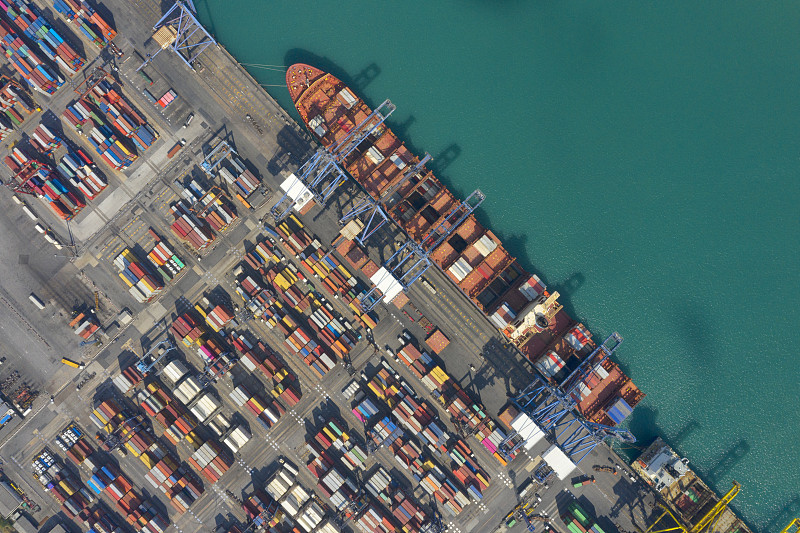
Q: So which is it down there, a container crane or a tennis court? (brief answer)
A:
container crane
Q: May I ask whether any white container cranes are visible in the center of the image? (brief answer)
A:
Yes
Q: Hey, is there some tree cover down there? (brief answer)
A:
No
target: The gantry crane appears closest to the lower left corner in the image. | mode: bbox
[95,417,144,460]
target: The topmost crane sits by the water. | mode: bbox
[140,0,223,73]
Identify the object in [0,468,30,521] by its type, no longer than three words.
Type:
building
